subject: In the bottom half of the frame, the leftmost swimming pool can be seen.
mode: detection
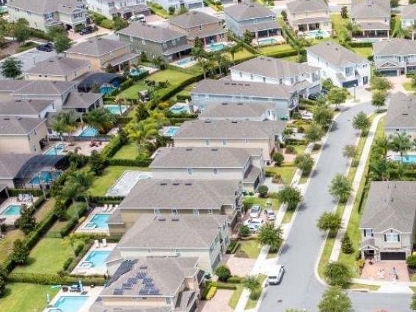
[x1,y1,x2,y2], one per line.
[0,203,19,217]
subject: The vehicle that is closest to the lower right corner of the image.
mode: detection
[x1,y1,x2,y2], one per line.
[267,264,284,285]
